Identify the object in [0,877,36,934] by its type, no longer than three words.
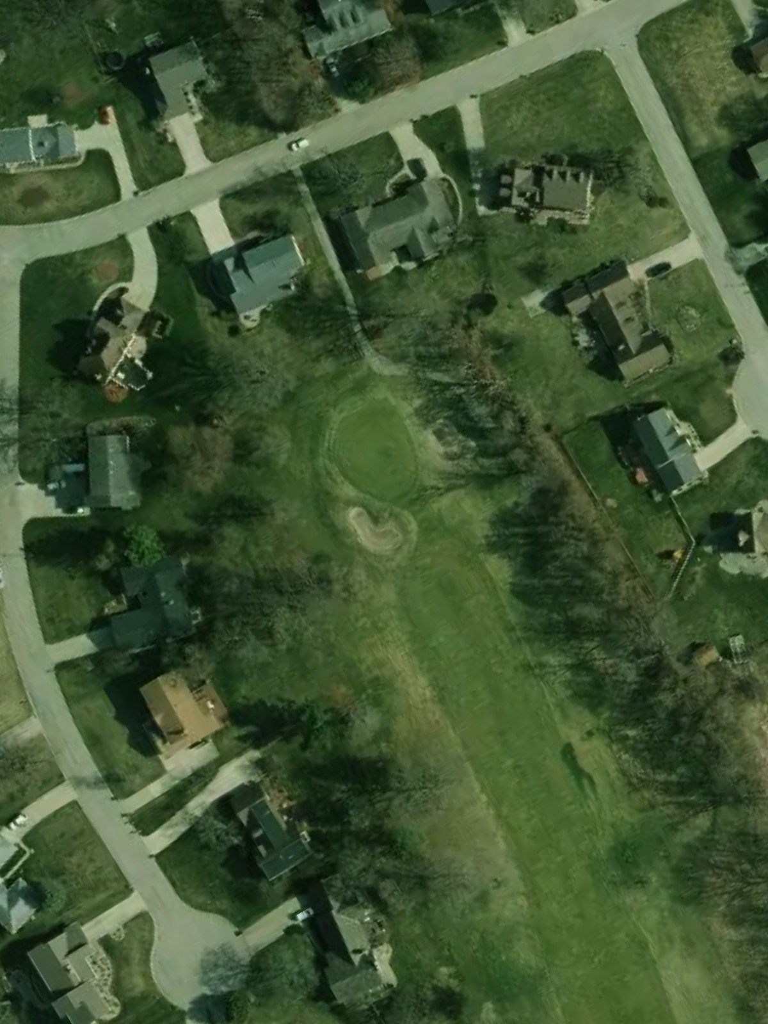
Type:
house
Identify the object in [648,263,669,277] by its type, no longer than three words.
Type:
car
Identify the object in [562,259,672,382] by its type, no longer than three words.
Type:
house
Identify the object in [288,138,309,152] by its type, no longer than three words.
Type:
car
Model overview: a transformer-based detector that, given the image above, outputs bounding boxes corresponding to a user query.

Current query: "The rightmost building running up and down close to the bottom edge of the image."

[313,869,379,1006]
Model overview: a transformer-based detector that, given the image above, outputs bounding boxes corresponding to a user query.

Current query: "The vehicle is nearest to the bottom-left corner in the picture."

[9,811,30,827]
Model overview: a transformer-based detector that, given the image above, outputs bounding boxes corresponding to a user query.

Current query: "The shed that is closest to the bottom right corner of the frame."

[692,642,720,668]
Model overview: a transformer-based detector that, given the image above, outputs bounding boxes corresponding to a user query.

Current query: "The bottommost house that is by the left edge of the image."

[27,921,115,1024]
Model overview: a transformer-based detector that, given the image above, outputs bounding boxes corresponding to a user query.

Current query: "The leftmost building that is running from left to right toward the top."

[0,122,78,166]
